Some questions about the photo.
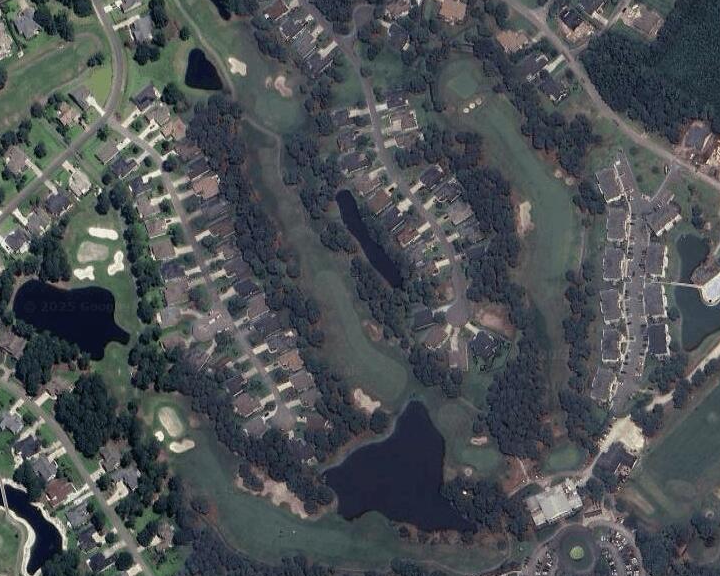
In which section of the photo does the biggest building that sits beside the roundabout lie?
bottom right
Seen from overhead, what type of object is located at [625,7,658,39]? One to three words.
house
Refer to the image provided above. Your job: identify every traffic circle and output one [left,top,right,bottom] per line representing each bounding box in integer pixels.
[554,528,601,575]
